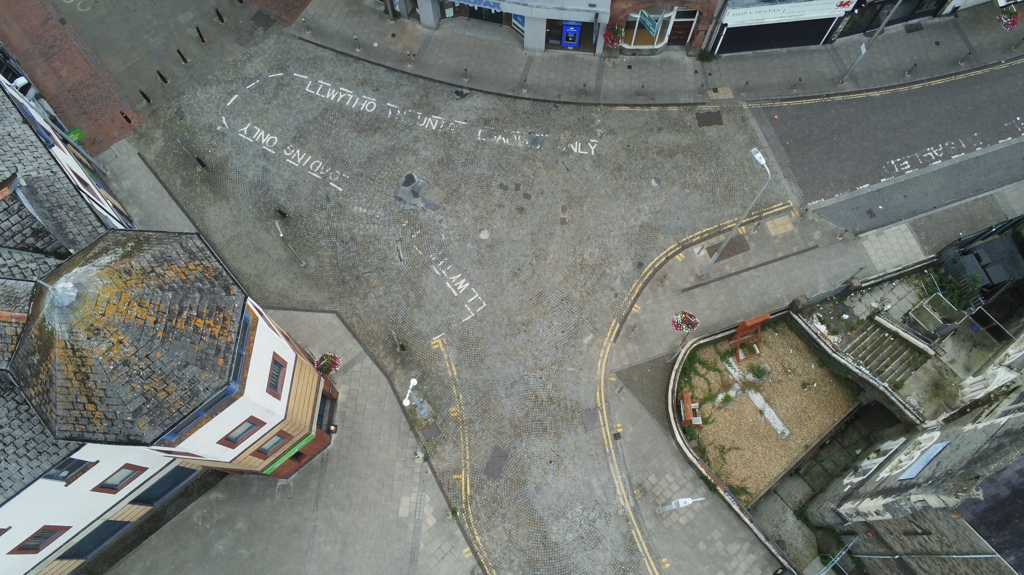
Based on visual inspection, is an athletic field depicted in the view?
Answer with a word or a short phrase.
No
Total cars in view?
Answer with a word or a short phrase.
0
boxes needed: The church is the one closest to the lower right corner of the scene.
[803,307,1024,575]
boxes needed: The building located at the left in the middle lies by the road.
[0,50,339,575]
